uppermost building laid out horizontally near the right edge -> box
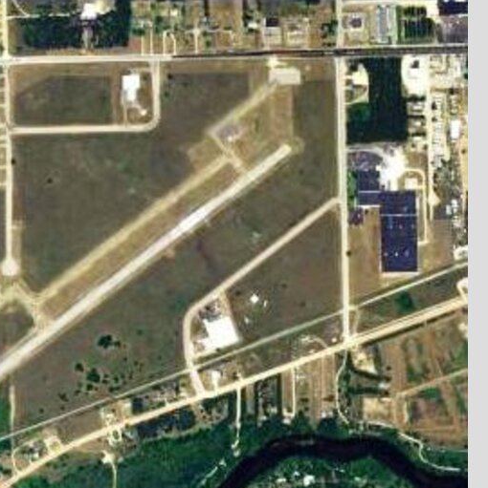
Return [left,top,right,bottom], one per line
[439,1,470,15]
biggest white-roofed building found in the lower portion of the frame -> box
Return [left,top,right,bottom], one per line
[196,316,240,351]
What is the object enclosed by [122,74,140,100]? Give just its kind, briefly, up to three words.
building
